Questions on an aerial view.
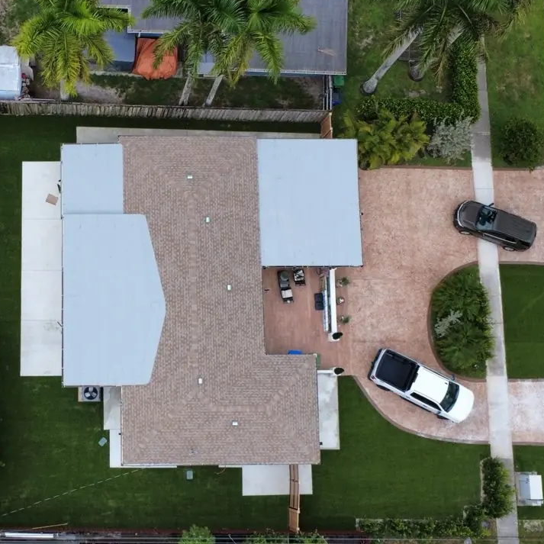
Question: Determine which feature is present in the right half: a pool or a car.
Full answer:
You can see a car in the right half.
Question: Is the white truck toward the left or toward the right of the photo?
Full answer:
The white truck appears in the right half of the scene.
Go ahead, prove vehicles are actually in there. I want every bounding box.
[452,196,543,254]
[366,345,474,425]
